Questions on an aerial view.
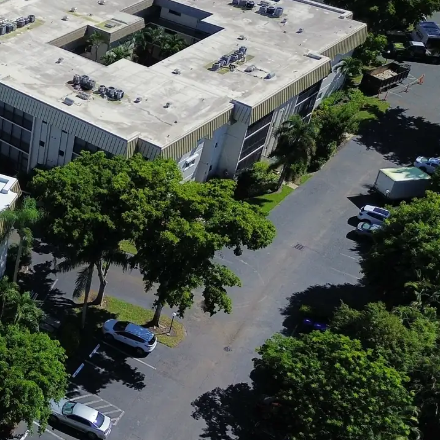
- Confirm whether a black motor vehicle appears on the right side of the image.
Yes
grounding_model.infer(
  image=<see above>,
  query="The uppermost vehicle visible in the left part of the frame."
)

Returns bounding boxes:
[97,317,158,351]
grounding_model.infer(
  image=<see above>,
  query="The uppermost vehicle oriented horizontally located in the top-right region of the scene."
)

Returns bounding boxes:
[389,43,440,62]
